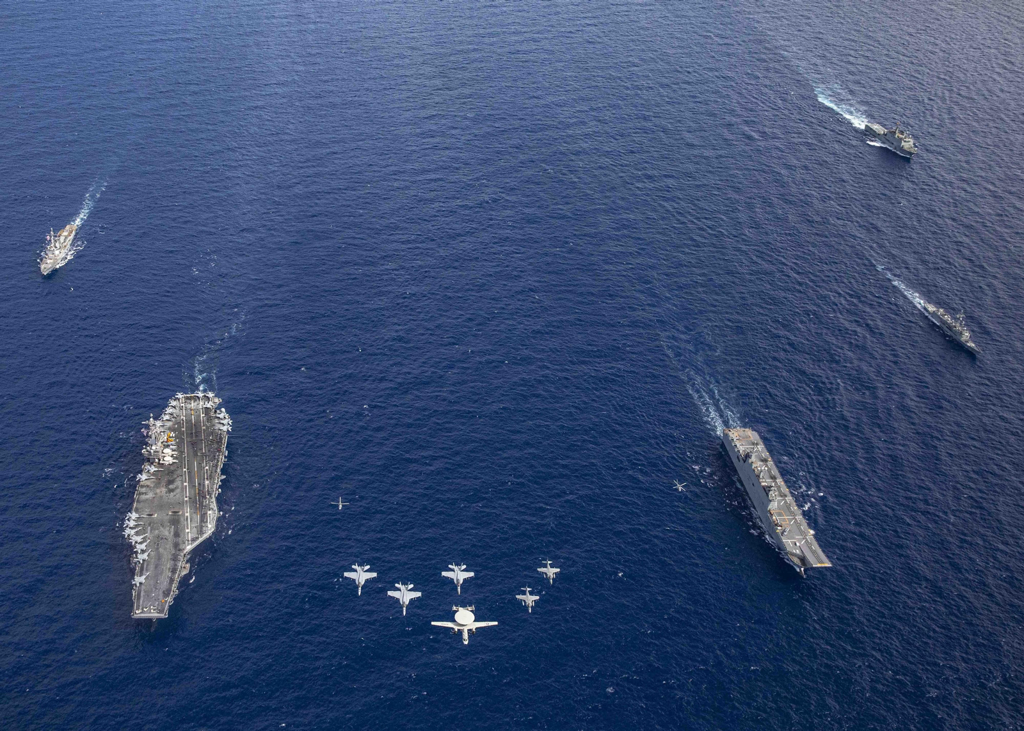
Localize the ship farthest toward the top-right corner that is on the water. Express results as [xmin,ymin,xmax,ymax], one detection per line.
[865,123,918,157]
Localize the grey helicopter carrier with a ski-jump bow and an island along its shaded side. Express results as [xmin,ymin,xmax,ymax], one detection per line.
[724,428,832,579]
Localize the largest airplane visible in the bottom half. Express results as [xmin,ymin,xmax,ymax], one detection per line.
[431,605,498,645]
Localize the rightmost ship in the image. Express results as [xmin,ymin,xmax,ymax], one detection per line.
[923,304,983,355]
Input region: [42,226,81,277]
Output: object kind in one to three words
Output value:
ship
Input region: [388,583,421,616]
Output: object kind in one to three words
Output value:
airplane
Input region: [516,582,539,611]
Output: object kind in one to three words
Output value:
airplane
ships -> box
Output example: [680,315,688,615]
[865,123,918,157]
[724,428,832,579]
[42,226,81,277]
[923,304,983,355]
[130,395,240,623]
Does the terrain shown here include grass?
No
